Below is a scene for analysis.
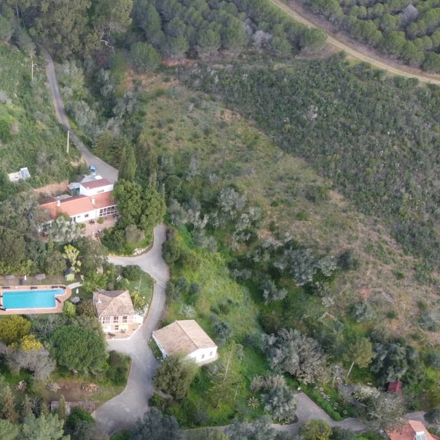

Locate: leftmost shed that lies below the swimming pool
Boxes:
[51,399,95,420]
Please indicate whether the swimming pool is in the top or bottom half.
bottom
